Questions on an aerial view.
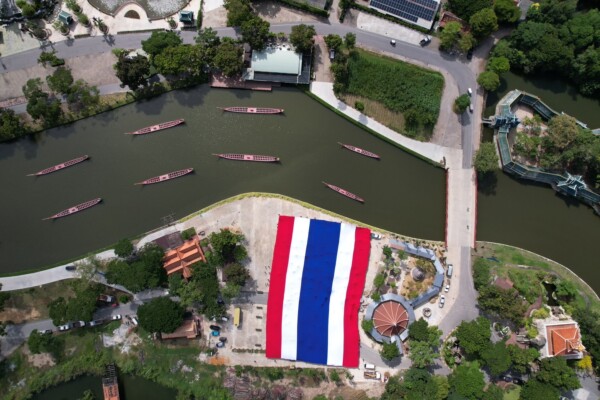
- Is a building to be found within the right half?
Yes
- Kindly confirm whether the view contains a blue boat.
No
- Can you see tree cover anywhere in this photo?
Yes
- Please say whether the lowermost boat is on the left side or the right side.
left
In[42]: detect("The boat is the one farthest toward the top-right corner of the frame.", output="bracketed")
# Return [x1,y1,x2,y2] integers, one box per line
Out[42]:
[339,142,381,158]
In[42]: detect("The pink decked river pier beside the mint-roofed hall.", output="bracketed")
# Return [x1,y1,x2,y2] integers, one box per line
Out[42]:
[210,72,281,91]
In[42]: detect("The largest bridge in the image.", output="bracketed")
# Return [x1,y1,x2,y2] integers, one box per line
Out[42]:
[448,168,479,248]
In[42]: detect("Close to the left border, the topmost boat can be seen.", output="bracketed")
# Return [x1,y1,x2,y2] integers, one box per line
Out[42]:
[26,155,88,176]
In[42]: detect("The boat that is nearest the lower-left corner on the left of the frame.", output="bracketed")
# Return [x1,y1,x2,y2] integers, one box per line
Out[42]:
[42,198,101,219]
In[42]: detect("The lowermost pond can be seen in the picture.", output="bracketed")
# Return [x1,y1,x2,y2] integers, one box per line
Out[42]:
[30,373,180,400]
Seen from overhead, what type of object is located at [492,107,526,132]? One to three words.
building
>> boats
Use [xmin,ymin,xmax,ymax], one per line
[26,155,88,176]
[339,142,381,158]
[134,168,194,184]
[219,106,284,112]
[127,119,185,134]
[214,153,281,160]
[42,198,101,219]
[323,182,366,201]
